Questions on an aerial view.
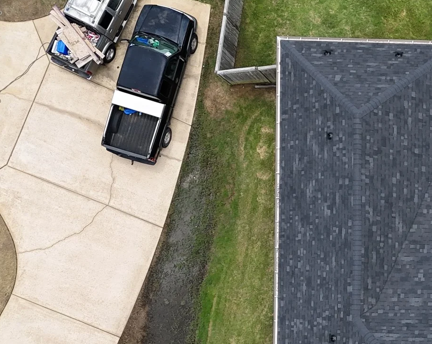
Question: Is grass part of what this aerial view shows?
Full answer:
Yes, some grass is visible.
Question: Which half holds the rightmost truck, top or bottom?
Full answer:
You can find the rightmost truck in the top half.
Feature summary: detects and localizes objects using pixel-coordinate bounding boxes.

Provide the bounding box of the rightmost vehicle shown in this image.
[98,3,202,167]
